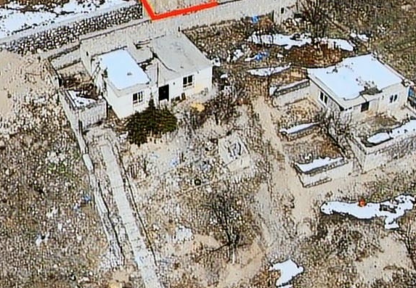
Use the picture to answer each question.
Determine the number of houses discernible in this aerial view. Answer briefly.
two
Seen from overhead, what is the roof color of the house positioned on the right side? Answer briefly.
white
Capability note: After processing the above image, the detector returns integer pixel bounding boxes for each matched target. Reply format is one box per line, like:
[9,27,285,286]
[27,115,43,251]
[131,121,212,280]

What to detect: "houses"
[92,32,217,118]
[306,52,410,125]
